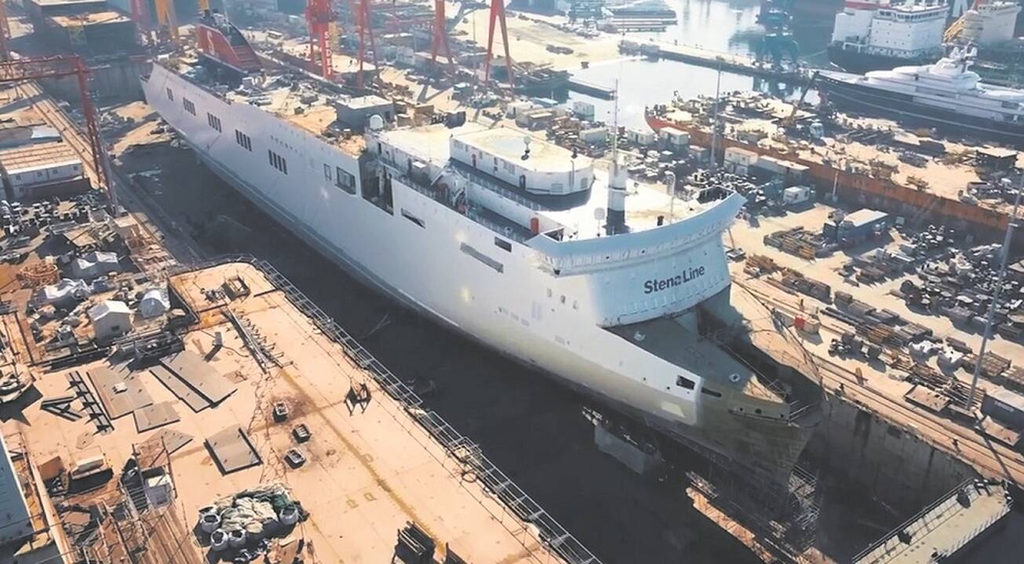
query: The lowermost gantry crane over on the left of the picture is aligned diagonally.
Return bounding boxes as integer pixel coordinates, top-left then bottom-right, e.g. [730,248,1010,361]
[0,65,121,217]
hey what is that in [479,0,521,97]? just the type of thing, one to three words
container crane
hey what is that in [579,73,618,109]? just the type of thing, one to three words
pier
